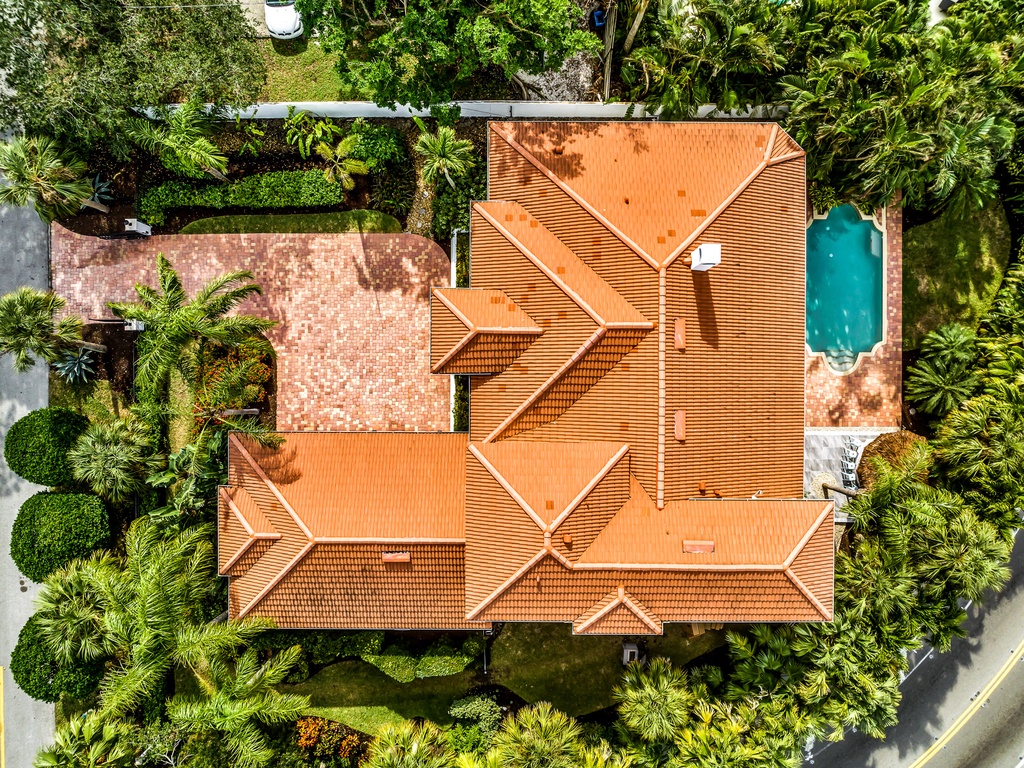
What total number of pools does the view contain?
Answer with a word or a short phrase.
1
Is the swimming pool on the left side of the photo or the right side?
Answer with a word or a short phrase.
right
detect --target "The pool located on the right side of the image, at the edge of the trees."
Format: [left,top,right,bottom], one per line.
[808,196,889,375]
